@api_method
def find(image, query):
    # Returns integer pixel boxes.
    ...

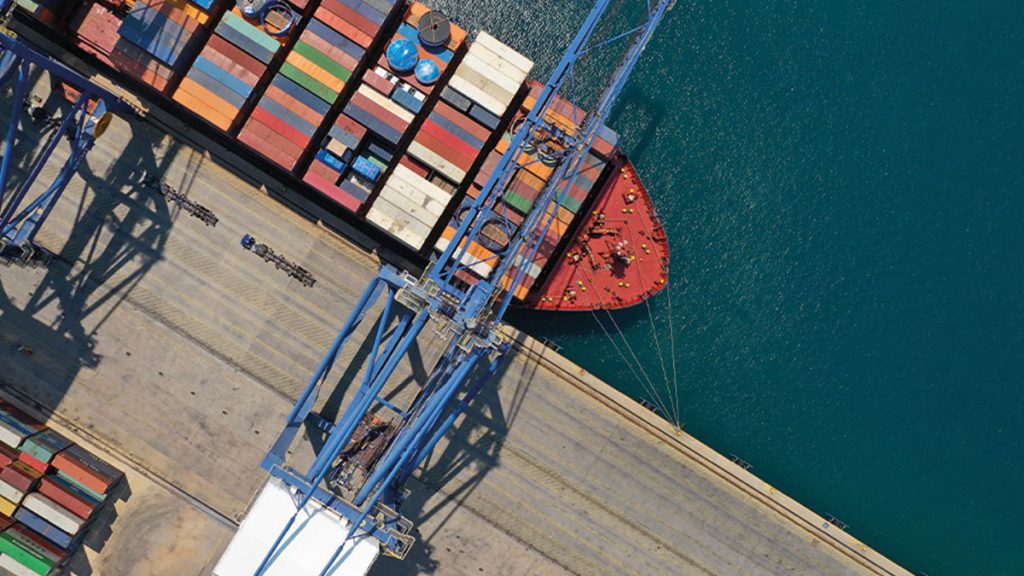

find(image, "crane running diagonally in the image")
[196,0,674,576]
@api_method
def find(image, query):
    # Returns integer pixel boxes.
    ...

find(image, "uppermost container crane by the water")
[0,0,144,254]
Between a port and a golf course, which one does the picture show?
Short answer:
port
